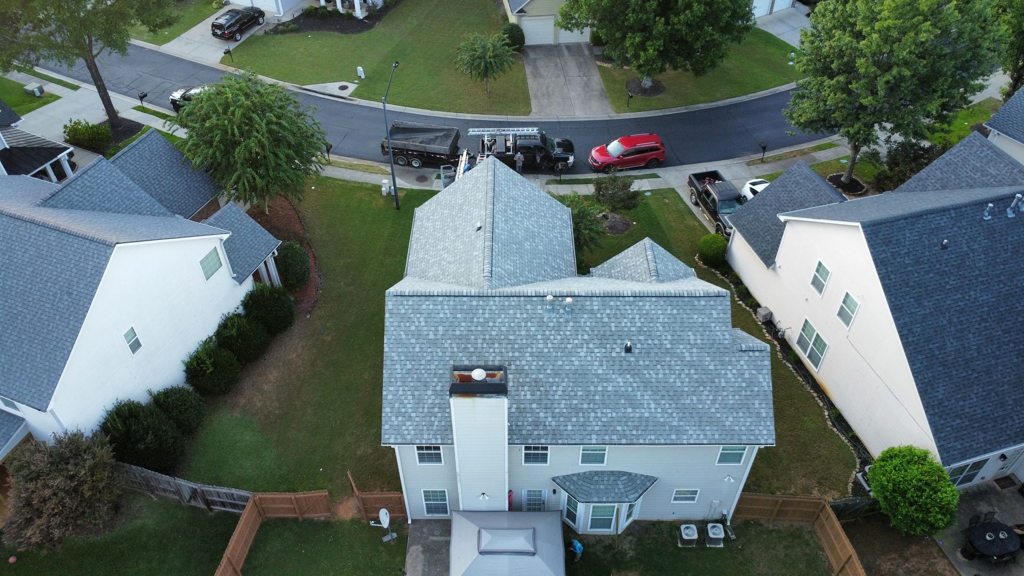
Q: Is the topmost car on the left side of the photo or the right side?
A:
left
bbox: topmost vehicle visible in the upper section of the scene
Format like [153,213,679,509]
[210,7,265,42]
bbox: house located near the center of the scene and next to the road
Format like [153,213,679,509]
[382,155,775,535]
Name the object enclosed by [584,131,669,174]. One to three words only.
car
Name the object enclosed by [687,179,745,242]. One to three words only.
truck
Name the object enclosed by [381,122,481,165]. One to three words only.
trailer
